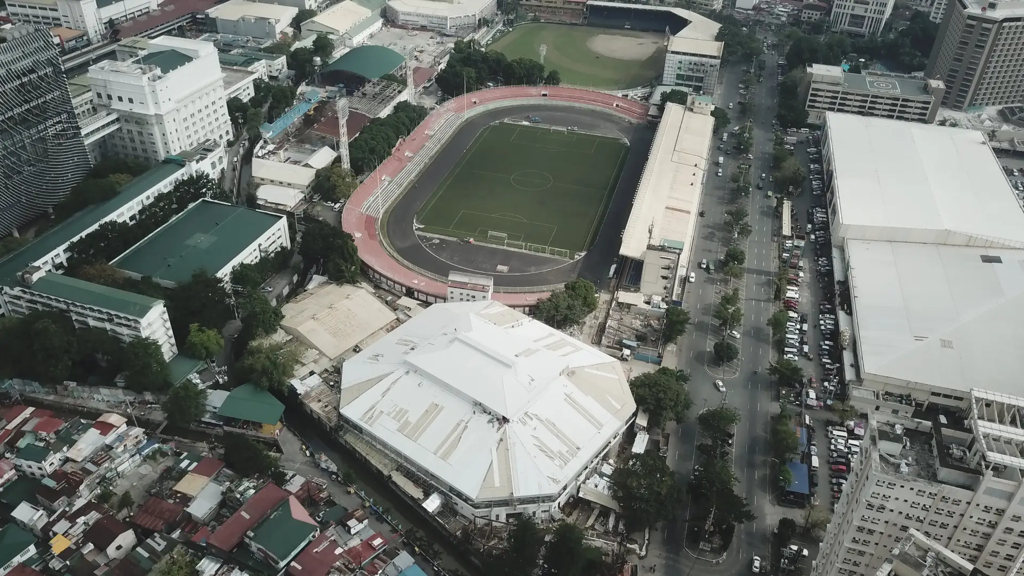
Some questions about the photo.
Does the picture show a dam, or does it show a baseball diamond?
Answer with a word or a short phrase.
baseball diamond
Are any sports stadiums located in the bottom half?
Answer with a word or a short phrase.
Yes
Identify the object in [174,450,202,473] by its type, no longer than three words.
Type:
house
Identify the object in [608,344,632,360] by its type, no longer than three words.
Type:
vehicle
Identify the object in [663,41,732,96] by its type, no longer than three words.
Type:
building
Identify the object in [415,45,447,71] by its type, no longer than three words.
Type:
shed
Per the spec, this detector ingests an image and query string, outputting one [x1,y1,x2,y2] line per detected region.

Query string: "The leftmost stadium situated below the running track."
[340,300,635,533]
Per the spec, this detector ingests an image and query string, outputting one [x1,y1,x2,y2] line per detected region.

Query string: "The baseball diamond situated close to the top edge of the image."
[481,24,669,88]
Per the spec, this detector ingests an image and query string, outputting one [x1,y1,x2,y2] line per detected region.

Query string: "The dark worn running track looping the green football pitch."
[387,105,660,311]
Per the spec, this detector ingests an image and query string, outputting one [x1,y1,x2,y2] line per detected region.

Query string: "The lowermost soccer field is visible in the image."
[405,122,633,261]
